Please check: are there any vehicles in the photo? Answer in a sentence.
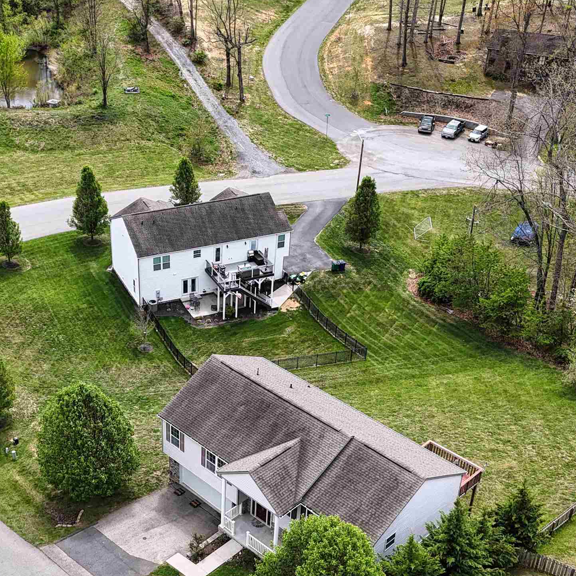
Yes, there is a vehicle in the image.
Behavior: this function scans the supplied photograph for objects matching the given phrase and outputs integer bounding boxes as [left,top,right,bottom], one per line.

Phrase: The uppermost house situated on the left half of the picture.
[108,186,292,315]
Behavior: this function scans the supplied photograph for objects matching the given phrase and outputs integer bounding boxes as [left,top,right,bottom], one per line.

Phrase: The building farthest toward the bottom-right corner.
[158,353,483,575]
